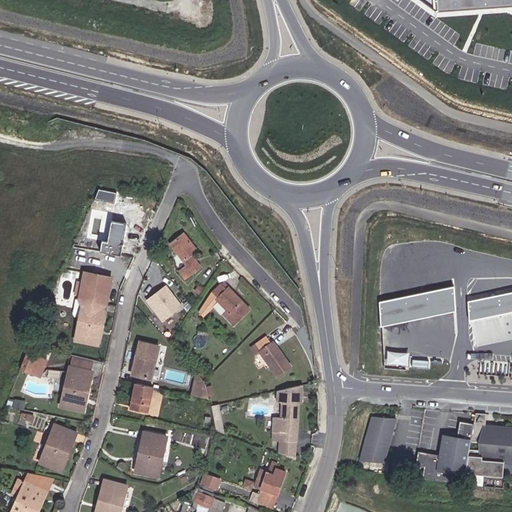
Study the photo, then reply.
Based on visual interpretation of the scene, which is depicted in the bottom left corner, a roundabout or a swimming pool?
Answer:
swimming pool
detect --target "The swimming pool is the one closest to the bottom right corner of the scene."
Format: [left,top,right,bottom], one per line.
[246,393,276,418]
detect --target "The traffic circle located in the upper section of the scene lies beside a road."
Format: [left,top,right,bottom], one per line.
[224,58,377,209]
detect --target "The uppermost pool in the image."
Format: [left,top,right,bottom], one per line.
[55,270,80,308]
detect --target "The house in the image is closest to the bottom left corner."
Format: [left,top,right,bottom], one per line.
[8,473,54,512]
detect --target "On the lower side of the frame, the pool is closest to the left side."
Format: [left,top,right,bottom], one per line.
[22,372,59,398]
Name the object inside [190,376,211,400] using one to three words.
shed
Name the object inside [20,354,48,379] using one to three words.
building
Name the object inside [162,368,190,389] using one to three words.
swimming pool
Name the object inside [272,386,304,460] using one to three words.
house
